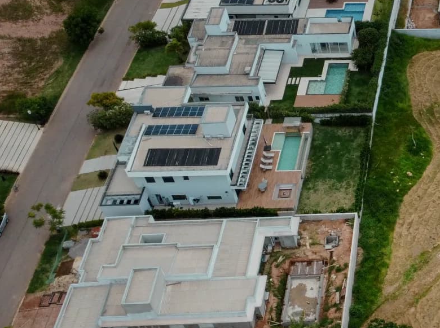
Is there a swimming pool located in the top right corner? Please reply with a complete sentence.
Yes, a swimming pool is visible in the top right corner.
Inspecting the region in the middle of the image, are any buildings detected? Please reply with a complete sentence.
Yes, the scene does show a building in the middle of the image.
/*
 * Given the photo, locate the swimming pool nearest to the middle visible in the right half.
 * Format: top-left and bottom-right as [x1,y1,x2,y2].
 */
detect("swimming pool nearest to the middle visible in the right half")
[272,133,310,171]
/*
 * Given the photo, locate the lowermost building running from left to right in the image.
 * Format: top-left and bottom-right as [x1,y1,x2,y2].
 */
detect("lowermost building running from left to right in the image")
[56,216,304,328]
